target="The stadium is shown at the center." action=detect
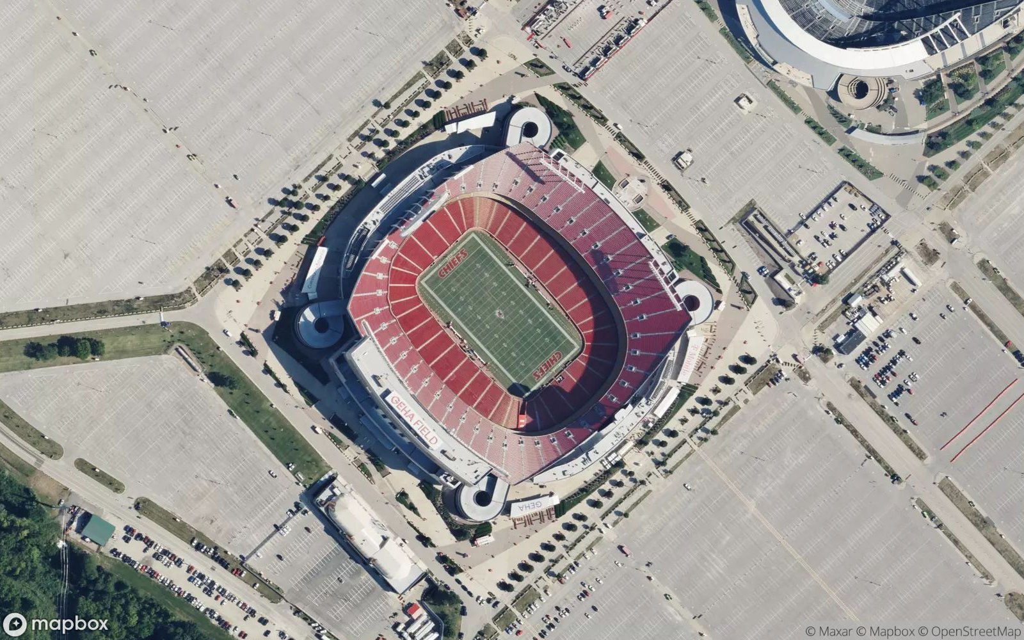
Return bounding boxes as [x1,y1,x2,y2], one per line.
[317,140,692,490]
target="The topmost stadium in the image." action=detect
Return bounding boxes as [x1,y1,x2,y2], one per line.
[728,0,1024,91]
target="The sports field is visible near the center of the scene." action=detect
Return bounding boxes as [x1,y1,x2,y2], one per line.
[415,227,584,397]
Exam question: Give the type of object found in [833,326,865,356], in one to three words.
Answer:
building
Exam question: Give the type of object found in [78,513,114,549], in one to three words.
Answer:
shed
